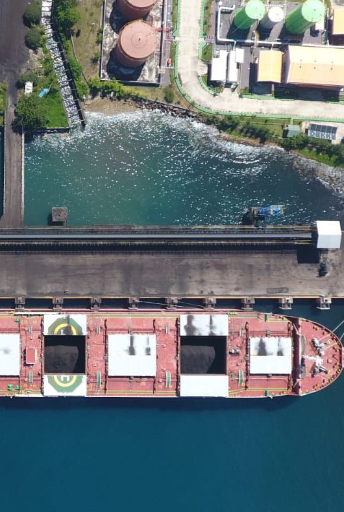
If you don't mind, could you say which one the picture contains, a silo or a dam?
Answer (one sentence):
The image shows a silo.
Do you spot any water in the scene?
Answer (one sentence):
Yes, some water is visible.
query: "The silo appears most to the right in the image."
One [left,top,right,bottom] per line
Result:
[284,0,327,36]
